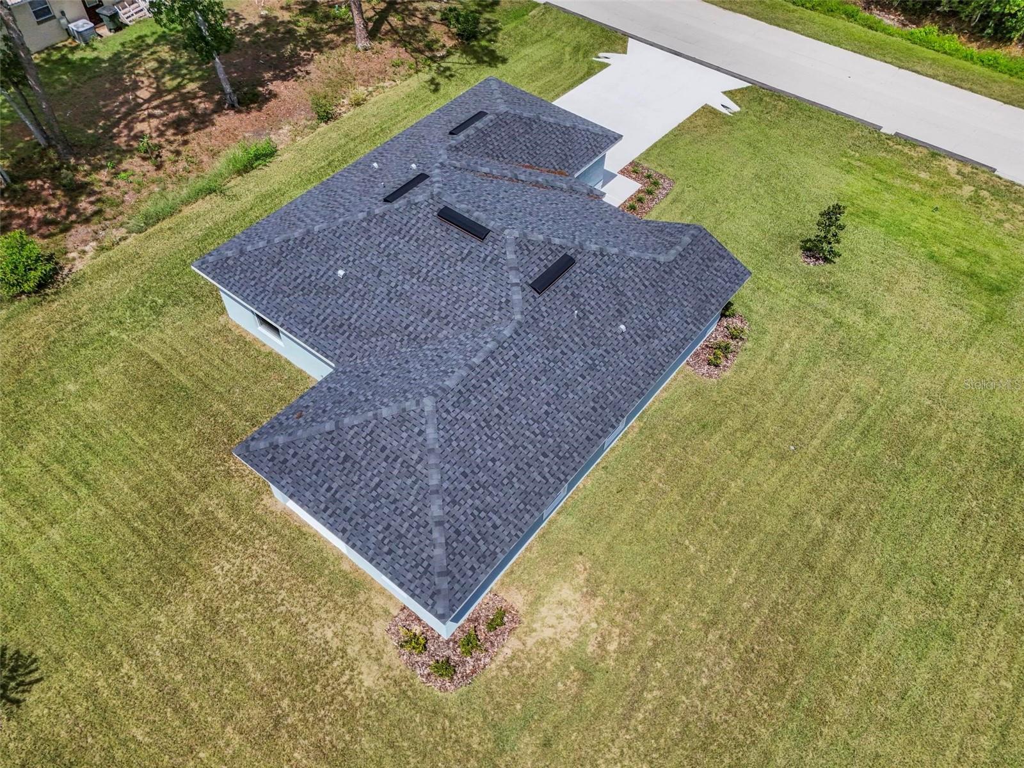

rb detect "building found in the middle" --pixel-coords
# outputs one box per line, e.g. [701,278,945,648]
[192,76,751,639]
